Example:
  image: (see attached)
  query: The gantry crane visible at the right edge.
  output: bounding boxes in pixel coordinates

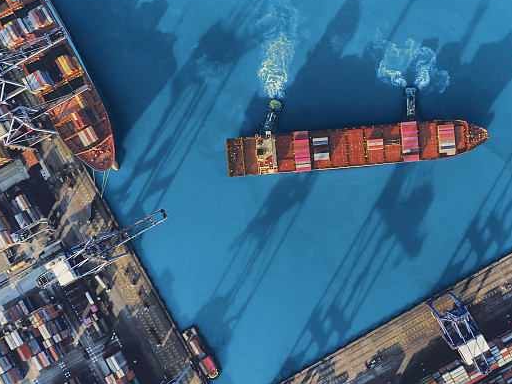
[425,290,492,375]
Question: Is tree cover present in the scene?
No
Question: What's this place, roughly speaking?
port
